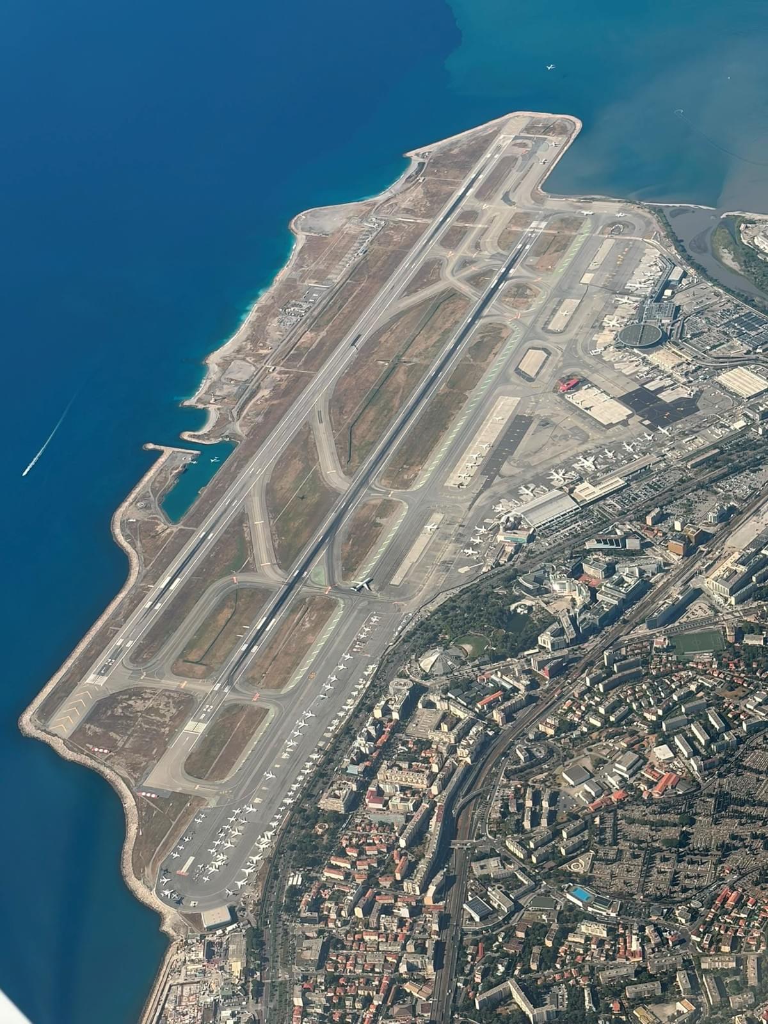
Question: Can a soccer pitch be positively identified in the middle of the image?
No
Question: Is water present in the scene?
Yes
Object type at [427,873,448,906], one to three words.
building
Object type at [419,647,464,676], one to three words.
greenhouse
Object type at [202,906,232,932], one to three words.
hangar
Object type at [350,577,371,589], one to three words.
airplane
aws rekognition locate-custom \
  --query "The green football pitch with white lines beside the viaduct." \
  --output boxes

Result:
[668,629,726,654]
